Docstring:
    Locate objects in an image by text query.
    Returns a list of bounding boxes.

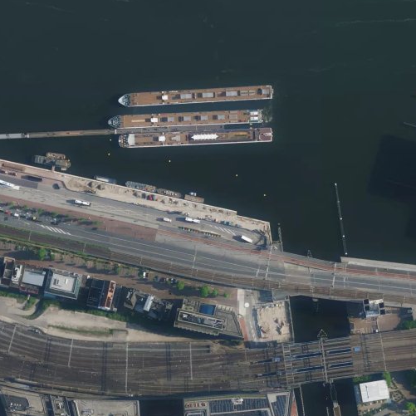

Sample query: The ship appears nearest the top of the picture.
[118,85,272,108]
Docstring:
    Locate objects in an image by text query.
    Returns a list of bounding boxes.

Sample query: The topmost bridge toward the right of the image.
[283,250,349,302]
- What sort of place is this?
port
